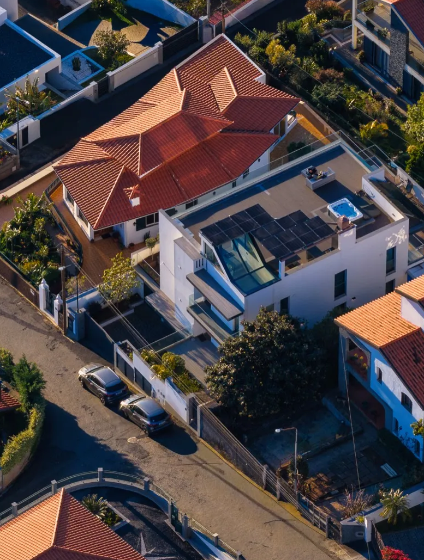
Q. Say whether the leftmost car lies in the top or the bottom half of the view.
bottom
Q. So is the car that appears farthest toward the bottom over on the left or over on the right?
left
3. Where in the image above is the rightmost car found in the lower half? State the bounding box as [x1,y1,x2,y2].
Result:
[120,395,169,434]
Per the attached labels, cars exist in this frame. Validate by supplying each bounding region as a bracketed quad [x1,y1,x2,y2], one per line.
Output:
[79,365,127,405]
[120,395,169,434]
